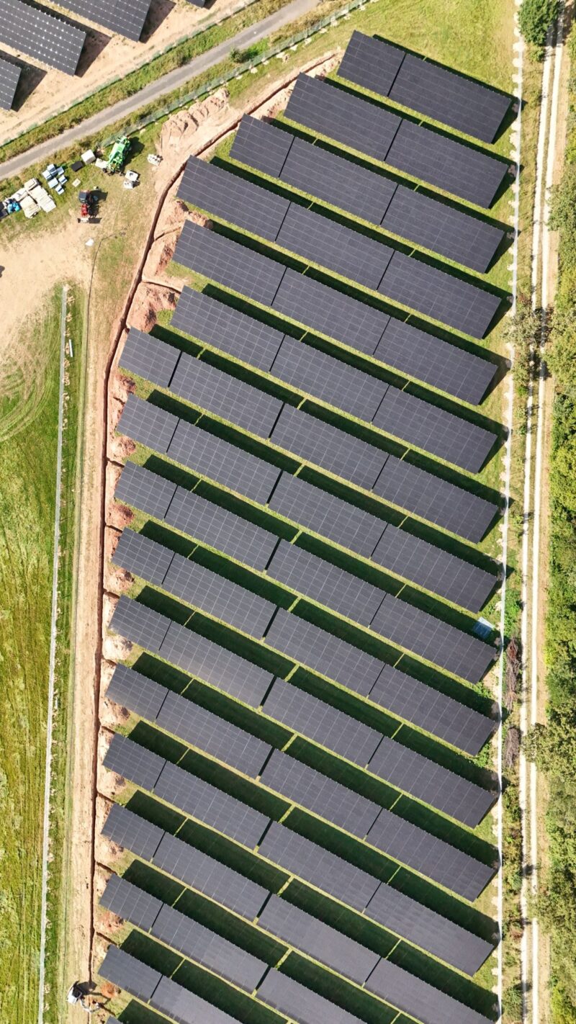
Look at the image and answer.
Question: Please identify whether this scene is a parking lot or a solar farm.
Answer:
solar farm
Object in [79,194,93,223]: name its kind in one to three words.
work vehicle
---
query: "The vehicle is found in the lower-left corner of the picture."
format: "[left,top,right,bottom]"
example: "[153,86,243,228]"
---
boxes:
[64,979,103,1014]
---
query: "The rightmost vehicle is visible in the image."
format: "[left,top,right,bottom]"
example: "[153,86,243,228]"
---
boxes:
[102,139,126,183]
